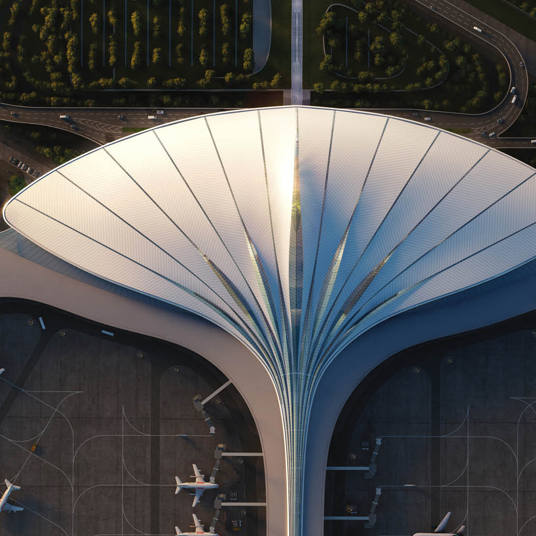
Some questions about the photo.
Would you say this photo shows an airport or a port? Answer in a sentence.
This image shows an airport.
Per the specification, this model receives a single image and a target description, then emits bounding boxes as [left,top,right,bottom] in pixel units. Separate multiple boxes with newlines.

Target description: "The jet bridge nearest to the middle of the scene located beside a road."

[192,381,230,434]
